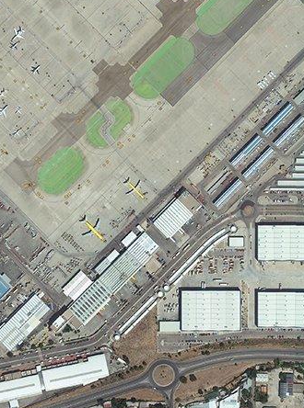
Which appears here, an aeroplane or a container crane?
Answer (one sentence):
Of the two, only an aeroplane appears.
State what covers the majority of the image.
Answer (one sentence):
Most of the picture is covered by paved ground.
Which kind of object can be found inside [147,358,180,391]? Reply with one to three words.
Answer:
roundabout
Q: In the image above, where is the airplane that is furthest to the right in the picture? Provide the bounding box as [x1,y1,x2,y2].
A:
[123,177,144,198]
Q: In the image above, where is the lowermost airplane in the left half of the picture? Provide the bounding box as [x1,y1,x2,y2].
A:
[80,215,104,241]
